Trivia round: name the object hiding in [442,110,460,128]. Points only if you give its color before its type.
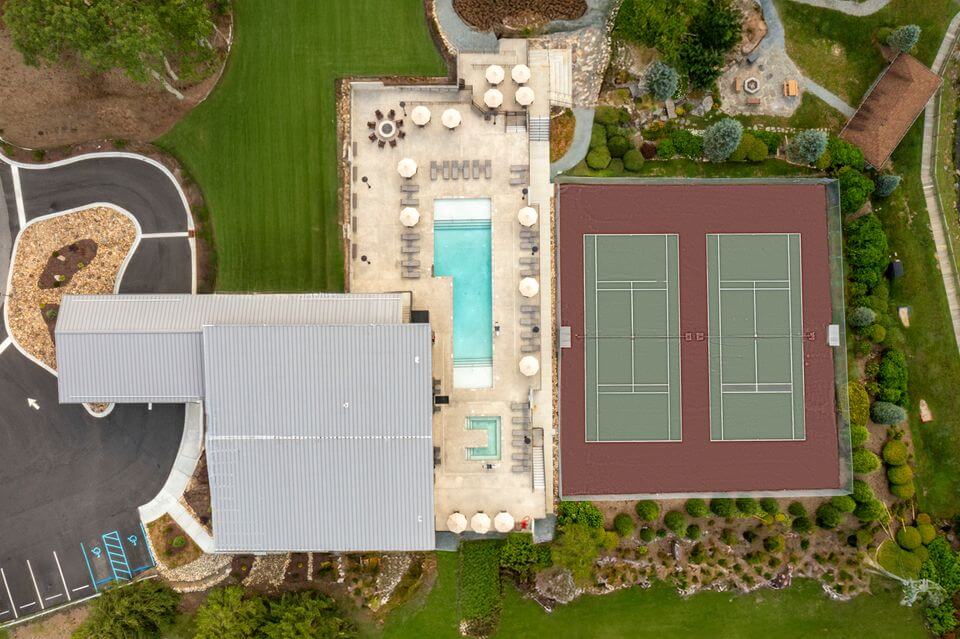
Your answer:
white umbrella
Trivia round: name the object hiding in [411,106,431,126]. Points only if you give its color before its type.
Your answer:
white umbrella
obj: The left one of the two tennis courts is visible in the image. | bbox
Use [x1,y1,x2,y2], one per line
[584,234,682,441]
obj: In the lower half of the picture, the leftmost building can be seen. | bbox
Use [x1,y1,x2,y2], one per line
[48,290,436,553]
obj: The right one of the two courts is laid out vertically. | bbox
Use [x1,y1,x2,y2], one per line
[706,234,805,440]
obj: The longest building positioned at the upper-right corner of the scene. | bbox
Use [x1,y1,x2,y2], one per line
[835,52,943,170]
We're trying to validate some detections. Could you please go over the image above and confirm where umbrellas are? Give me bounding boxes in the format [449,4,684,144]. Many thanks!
[486,65,504,84]
[398,157,417,178]
[483,88,503,109]
[411,106,431,126]
[471,513,490,533]
[399,207,420,227]
[447,513,467,533]
[518,206,537,226]
[515,86,535,107]
[519,277,539,297]
[519,356,539,376]
[494,512,514,531]
[442,110,460,128]
[511,64,531,84]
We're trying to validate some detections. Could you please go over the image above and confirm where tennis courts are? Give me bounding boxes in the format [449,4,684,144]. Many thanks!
[584,234,682,441]
[706,234,805,440]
